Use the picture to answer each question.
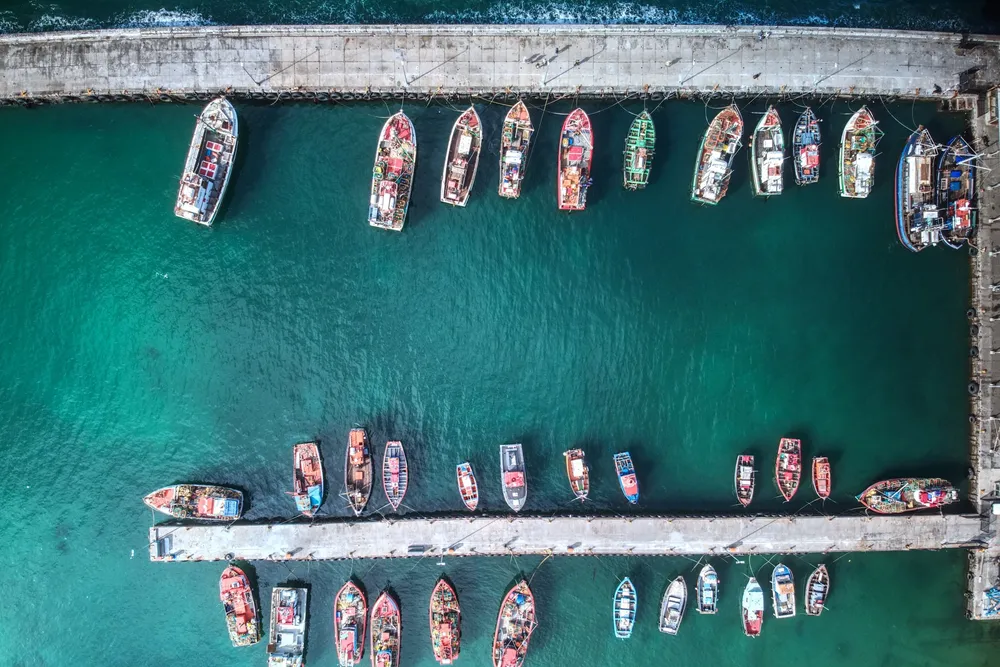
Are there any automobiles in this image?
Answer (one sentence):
No, the scene contains no automobile.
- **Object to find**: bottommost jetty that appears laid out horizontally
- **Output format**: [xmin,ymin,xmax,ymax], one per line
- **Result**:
[149,512,976,563]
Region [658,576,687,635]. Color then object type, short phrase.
white boat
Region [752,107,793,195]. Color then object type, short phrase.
white boat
